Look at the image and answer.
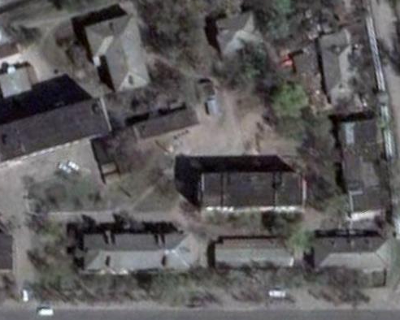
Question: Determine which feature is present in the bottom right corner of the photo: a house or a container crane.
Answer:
house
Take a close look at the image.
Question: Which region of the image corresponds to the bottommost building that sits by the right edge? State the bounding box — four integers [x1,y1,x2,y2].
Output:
[312,234,396,270]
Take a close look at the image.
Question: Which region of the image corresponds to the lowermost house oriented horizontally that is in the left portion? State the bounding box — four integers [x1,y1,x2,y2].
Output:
[82,233,191,272]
